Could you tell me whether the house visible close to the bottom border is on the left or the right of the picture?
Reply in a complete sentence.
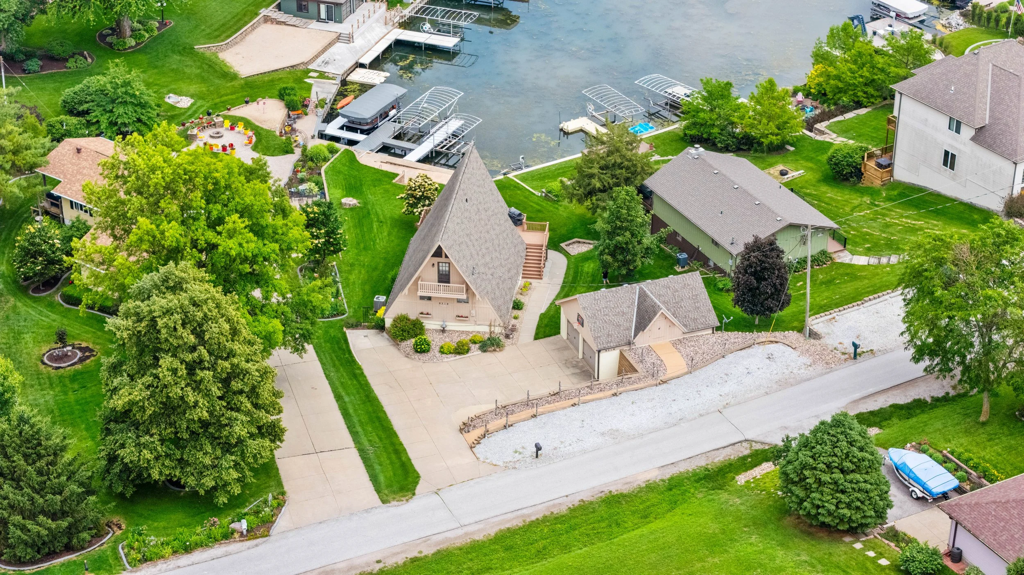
It is on the right.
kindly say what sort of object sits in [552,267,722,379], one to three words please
building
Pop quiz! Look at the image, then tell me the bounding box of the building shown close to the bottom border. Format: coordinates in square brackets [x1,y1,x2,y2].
[934,471,1024,575]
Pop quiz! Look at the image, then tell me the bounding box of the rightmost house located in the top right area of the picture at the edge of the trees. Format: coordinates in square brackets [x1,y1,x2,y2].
[887,28,1024,213]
